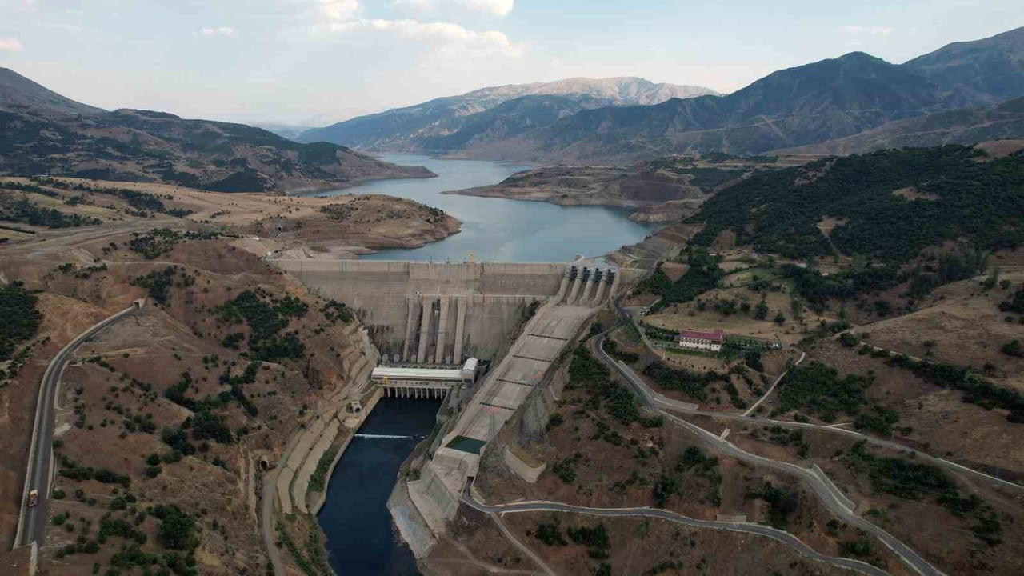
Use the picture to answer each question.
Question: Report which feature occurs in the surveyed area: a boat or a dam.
dam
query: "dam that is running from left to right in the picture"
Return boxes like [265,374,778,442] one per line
[263,257,567,360]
